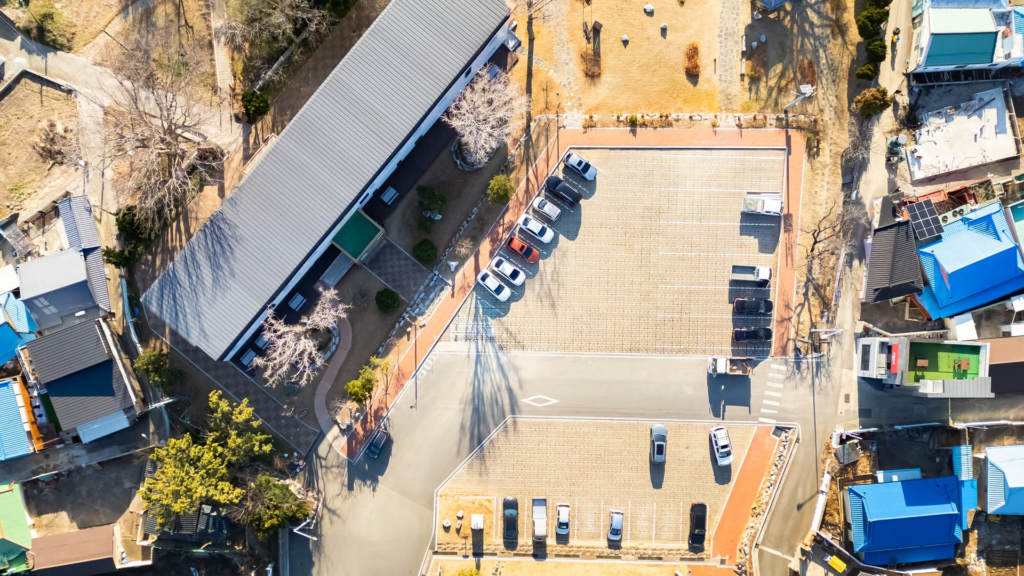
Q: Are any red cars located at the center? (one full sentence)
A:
Yes, a red car is visible at the center.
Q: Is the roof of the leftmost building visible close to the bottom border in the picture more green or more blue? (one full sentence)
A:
From above, the roof of the leftmost building visible close to the bottom border appears green.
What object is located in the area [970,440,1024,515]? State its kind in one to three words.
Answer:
house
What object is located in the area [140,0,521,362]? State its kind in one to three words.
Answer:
building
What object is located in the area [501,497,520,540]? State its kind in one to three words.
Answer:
car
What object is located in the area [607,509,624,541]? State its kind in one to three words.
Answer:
car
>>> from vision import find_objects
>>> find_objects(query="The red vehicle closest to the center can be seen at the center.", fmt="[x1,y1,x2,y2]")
[503,233,542,265]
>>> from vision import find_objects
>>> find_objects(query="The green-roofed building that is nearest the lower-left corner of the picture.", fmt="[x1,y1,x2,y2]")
[0,481,47,574]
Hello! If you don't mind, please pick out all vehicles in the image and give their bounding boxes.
[707,357,756,377]
[503,233,542,265]
[689,502,708,546]
[501,497,520,540]
[530,194,565,224]
[530,496,549,541]
[555,503,572,534]
[517,212,556,246]
[794,343,805,357]
[474,268,513,303]
[729,264,774,284]
[488,254,528,288]
[607,509,624,541]
[732,296,773,315]
[710,425,733,467]
[739,194,785,213]
[544,173,584,209]
[561,149,600,183]
[650,424,669,464]
[731,326,773,345]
